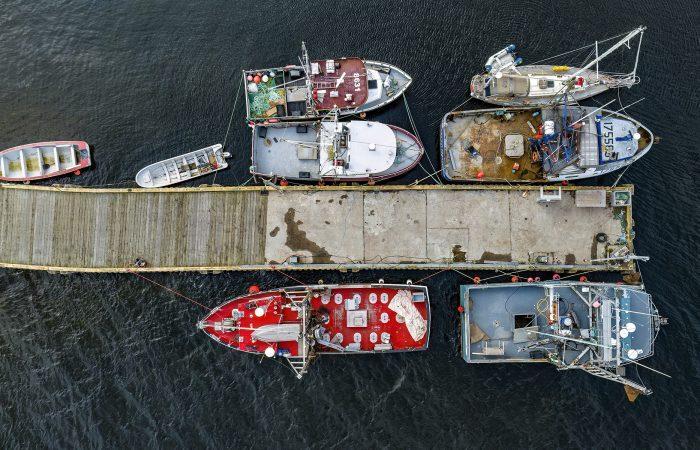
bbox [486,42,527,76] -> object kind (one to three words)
boat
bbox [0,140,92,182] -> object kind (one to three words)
boat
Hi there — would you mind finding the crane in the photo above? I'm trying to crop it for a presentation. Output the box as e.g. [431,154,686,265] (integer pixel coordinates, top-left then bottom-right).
[592,245,651,264]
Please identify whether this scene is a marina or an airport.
marina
